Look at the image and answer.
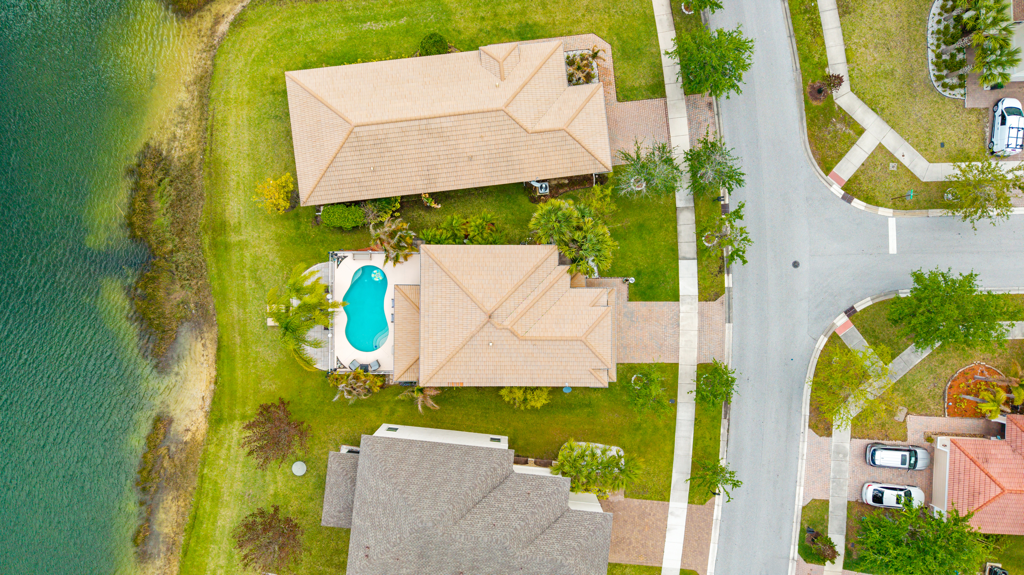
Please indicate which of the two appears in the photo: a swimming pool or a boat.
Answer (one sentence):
The one in the frame is a swimming pool.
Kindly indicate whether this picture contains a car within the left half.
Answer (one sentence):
No, I can find no car within the left half.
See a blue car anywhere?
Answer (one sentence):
No, the scene contains no blue car.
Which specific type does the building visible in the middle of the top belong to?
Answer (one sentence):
From above, the building visible in the middle of the top can be identified as a home.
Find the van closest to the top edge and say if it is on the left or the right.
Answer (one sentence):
The van closest to the top edge is on the right side of the image.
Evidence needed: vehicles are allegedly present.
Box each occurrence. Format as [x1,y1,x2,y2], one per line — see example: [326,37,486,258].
[859,479,924,512]
[862,440,930,474]
[992,97,1024,157]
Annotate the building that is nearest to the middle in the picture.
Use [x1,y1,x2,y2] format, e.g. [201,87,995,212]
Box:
[392,243,617,389]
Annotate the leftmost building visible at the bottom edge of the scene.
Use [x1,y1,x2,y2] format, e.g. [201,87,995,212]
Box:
[320,425,614,575]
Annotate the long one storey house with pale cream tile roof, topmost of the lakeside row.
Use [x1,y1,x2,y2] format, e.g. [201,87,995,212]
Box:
[284,39,613,207]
